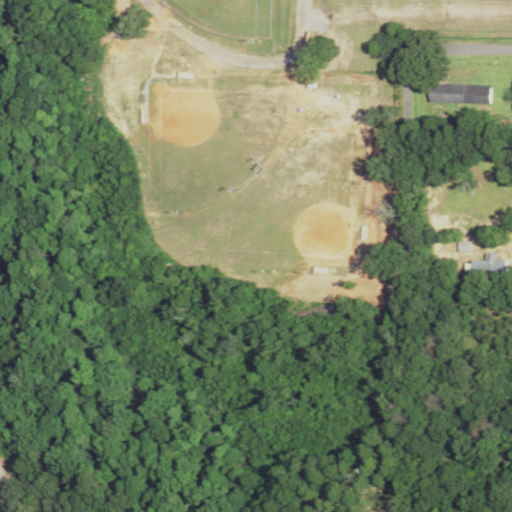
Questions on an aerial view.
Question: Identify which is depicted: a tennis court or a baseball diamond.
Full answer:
Of the two, only a baseball diamond appears.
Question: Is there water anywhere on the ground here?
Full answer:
No, there's no water in this view.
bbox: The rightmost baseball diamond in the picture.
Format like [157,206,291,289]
[226,131,354,265]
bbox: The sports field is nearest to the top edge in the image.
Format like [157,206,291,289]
[162,0,271,40]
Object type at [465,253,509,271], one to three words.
house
